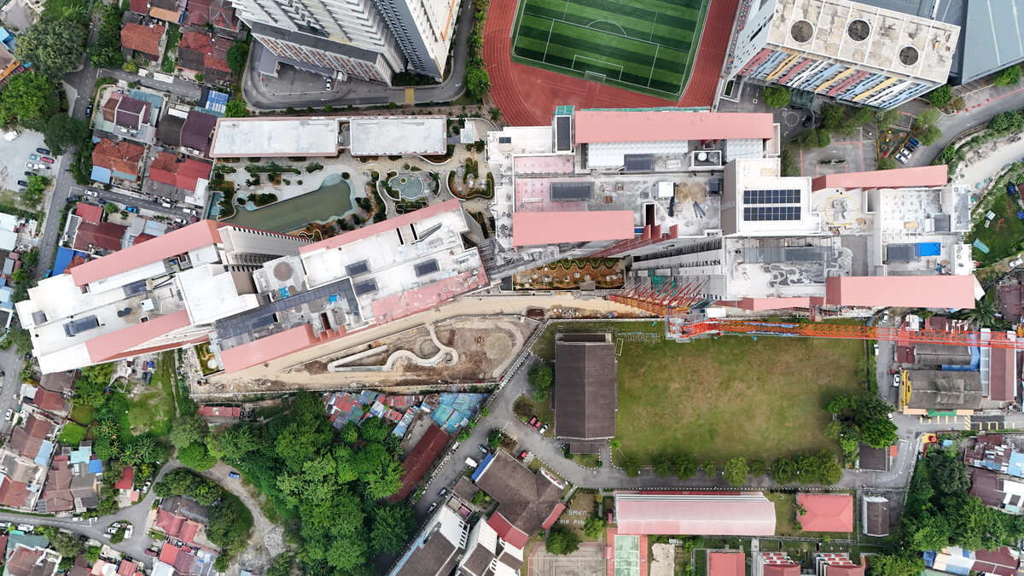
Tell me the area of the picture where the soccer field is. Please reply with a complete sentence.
The soccer field is located in the top region of the scene.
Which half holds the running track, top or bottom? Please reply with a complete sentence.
The top half of the photo is where the running track is.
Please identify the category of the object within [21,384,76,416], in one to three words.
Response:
house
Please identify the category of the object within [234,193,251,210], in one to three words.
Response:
swimming pool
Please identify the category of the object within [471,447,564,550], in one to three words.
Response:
building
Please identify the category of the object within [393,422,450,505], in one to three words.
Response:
shed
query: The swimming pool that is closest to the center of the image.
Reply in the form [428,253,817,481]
[388,173,424,201]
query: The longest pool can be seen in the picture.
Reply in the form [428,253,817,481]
[224,173,354,236]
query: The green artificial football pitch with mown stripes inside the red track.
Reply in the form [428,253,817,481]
[510,0,706,104]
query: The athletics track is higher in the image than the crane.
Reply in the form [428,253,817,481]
[479,0,736,130]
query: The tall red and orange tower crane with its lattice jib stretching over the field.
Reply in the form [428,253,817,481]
[601,261,1024,349]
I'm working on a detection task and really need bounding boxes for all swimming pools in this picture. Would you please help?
[206,191,224,220]
[224,173,354,236]
[234,193,251,210]
[388,173,424,201]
